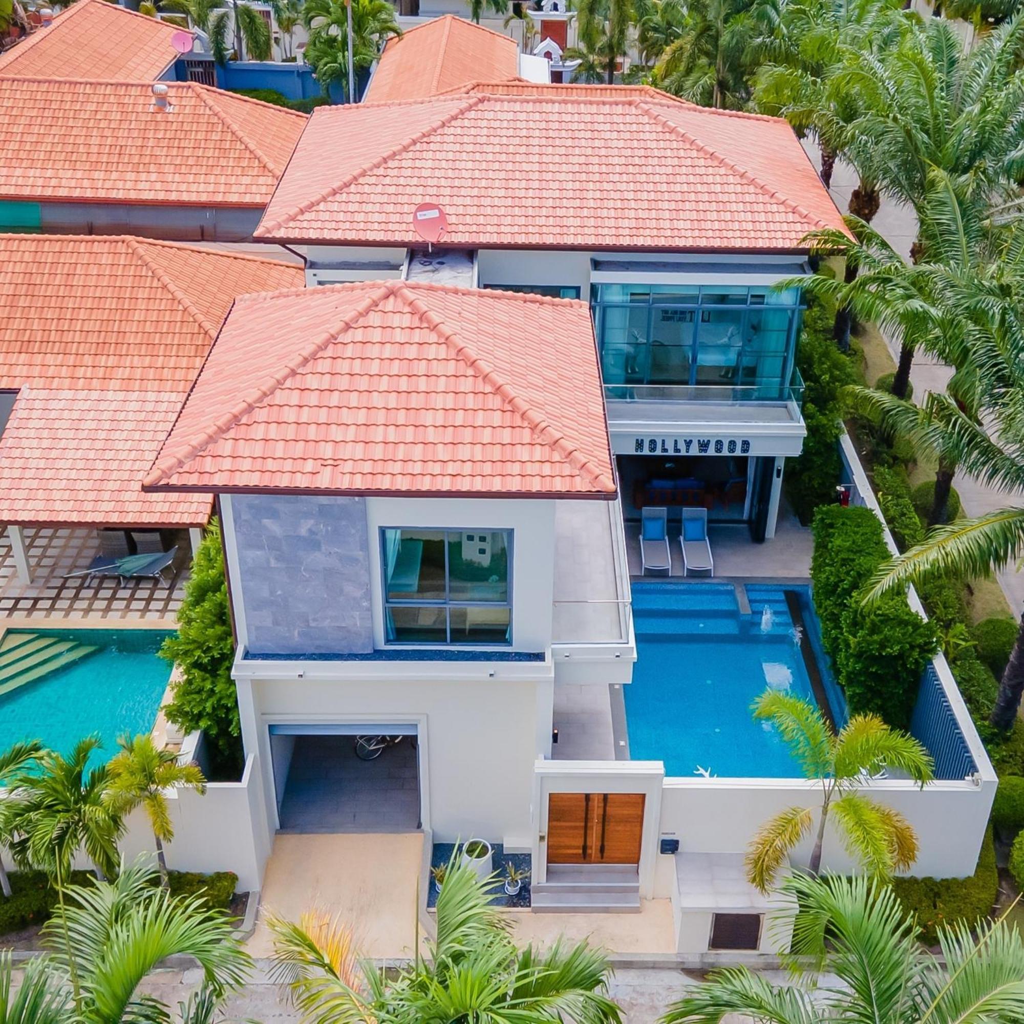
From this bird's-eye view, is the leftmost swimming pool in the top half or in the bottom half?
bottom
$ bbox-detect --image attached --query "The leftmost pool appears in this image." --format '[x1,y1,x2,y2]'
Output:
[0,631,168,776]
